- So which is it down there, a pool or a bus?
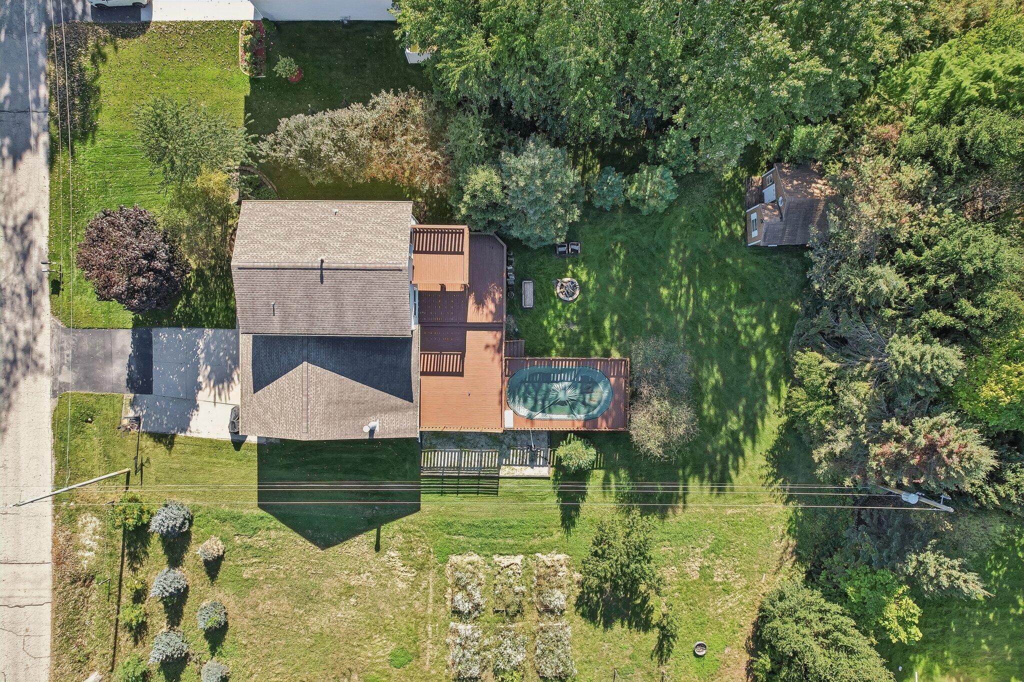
pool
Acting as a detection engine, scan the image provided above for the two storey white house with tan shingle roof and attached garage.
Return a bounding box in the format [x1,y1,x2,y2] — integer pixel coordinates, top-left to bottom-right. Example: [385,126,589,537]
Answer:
[231,199,423,442]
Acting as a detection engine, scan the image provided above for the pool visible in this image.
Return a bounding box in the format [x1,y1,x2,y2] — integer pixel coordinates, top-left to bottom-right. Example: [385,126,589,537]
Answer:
[506,366,612,421]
